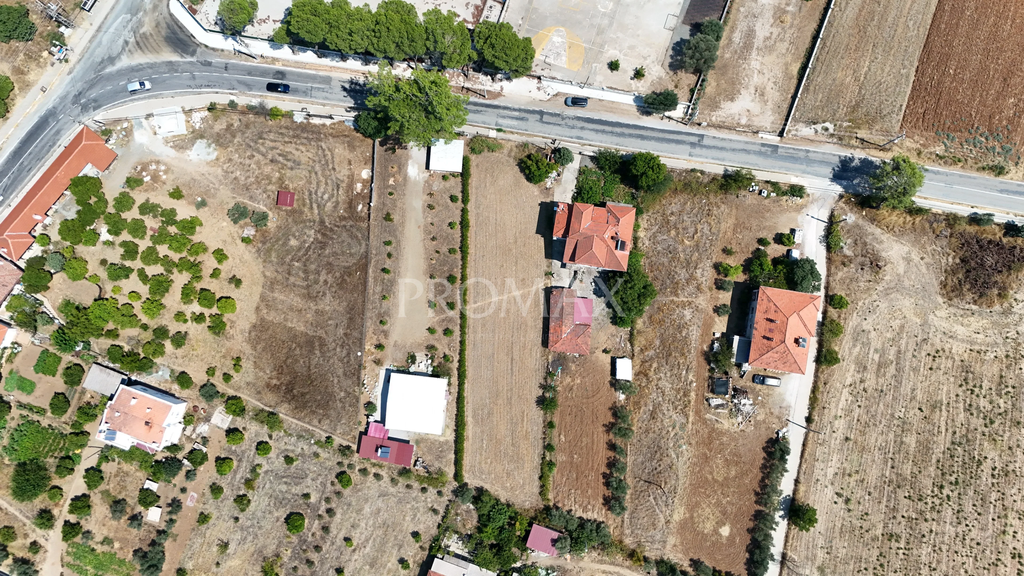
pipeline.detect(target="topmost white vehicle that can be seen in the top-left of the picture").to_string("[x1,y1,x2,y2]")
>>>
[122,78,151,93]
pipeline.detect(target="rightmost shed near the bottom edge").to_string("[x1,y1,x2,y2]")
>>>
[526,521,562,556]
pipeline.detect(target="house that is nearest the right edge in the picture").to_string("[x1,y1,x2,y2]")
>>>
[745,286,822,375]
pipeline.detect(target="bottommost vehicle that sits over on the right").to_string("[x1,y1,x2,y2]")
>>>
[753,374,782,387]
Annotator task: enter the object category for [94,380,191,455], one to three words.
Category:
house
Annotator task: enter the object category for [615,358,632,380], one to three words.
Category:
shed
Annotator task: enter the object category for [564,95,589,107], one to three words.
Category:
vehicle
